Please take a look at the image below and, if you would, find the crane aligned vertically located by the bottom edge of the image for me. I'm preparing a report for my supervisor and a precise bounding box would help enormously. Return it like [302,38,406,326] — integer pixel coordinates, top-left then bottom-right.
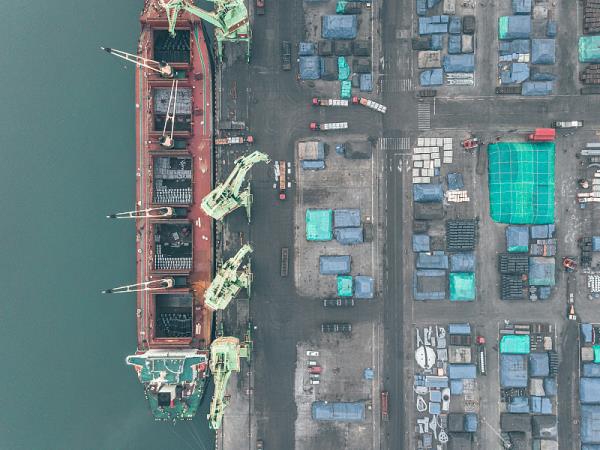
[206,322,253,429]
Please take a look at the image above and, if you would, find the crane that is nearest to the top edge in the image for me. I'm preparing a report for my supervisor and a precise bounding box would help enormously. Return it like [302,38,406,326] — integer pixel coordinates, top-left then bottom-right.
[162,0,257,58]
